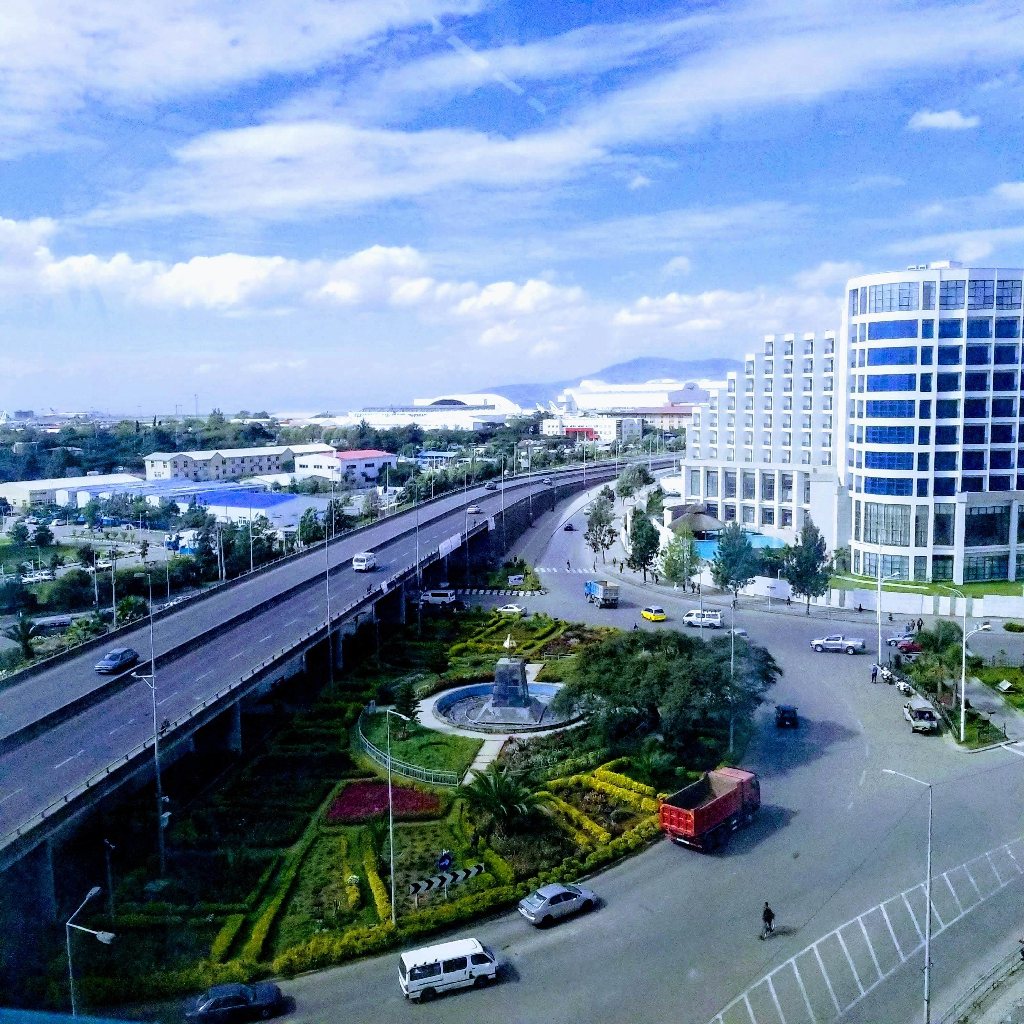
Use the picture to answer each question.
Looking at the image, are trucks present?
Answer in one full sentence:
Yes, looking at the shot, I can spot a truck.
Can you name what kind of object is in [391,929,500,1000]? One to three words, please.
vehicle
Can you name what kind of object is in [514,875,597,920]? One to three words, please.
car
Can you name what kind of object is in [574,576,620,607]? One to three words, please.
truck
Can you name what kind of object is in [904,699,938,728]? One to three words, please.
truck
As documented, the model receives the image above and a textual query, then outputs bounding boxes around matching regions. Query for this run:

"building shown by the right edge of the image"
[667,264,1024,583]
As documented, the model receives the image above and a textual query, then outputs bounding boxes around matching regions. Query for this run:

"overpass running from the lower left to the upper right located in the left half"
[0,457,676,908]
